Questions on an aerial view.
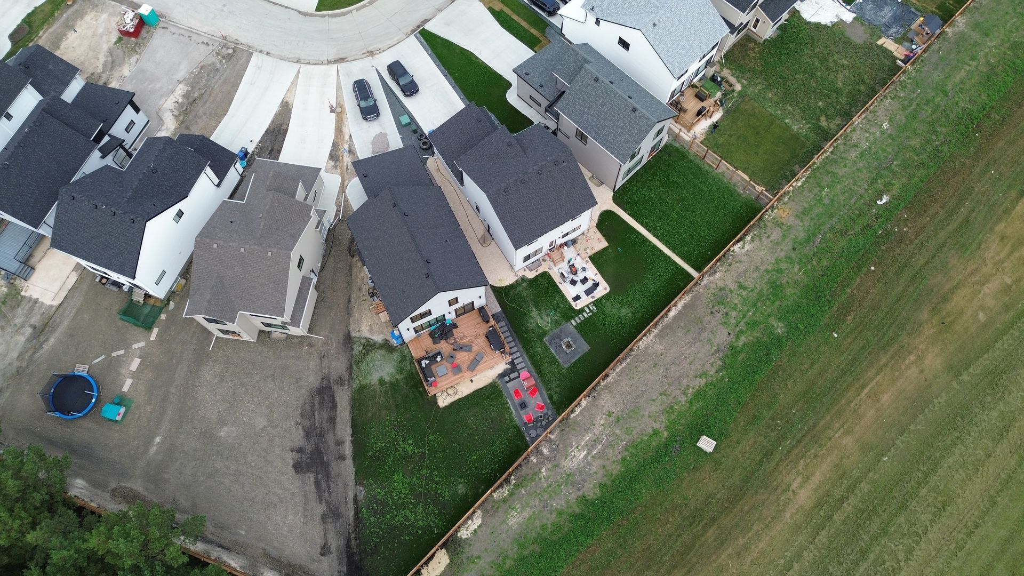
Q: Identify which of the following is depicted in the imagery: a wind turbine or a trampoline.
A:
trampoline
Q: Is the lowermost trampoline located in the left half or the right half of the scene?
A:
left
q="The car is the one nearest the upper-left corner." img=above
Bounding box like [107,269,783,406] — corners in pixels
[352,76,378,119]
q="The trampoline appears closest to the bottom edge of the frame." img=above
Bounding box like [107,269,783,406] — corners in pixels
[37,371,105,421]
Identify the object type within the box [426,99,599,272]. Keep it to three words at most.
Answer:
house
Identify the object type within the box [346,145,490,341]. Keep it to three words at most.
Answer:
house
